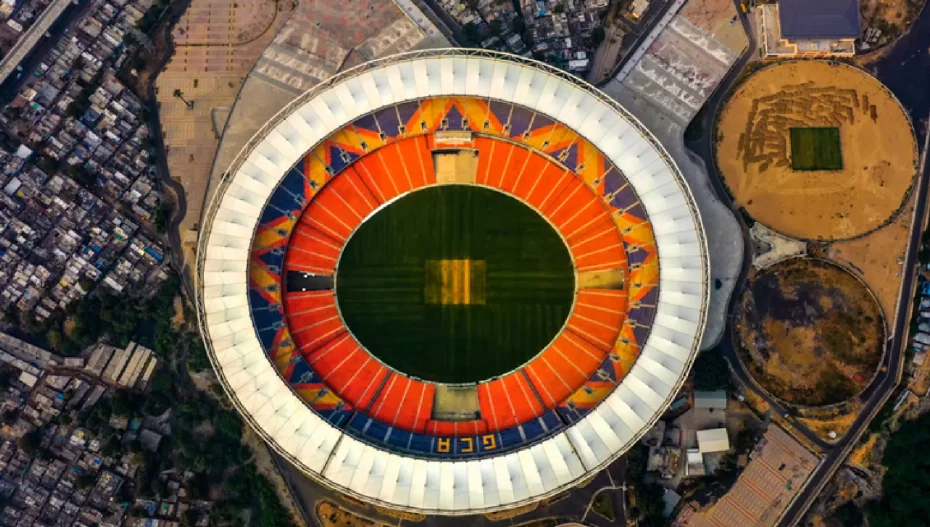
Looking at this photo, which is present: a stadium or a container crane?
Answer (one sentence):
The image shows a stadium.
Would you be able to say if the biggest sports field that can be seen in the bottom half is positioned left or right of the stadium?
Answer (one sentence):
The biggest sports field that can be seen in the bottom half is to the right of the stadium.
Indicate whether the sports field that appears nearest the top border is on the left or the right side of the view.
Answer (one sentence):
The sports field that appears nearest the top border is on the right side of the image.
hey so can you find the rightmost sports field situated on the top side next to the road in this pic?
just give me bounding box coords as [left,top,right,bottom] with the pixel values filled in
[715,57,918,242]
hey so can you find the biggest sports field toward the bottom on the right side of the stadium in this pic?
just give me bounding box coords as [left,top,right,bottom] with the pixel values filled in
[734,257,887,406]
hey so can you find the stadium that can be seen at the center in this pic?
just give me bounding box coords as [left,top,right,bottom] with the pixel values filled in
[196,46,710,515]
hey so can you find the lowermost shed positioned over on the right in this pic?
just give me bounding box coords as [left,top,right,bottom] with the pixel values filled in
[662,488,684,515]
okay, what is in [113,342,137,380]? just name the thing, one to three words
shed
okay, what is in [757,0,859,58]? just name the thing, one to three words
building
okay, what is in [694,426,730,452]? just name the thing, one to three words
shed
